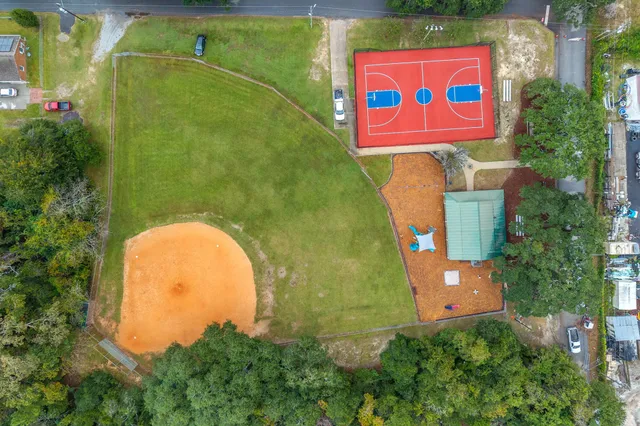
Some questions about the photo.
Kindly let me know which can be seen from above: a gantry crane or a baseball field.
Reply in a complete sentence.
Visible in the photo is a baseball field.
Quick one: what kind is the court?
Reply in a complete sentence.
The court can be classified as a basketball court.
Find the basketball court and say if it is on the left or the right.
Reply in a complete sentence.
The basketball court sits on the right side.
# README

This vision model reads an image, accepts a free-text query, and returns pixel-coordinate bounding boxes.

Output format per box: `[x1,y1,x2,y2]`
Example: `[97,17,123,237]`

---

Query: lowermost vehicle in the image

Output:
[564,326,581,355]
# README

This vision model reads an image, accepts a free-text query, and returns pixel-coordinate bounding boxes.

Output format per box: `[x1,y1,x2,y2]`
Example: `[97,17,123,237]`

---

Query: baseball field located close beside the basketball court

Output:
[92,57,419,369]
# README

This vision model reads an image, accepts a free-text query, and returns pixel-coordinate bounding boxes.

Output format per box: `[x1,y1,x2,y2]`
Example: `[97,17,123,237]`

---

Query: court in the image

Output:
[355,46,496,147]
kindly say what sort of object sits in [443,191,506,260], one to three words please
building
